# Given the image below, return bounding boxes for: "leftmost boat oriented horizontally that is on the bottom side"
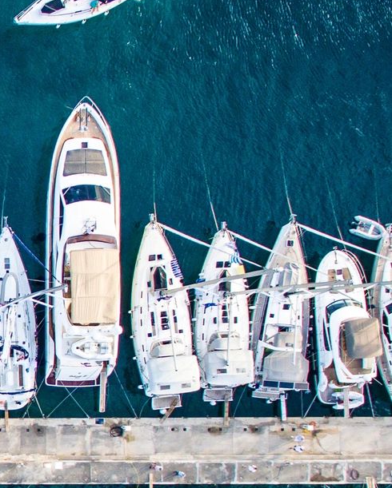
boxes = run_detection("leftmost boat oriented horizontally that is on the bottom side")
[73,339,116,358]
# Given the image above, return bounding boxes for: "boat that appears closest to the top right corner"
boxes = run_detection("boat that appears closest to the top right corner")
[348,218,385,242]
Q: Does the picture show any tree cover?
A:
No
